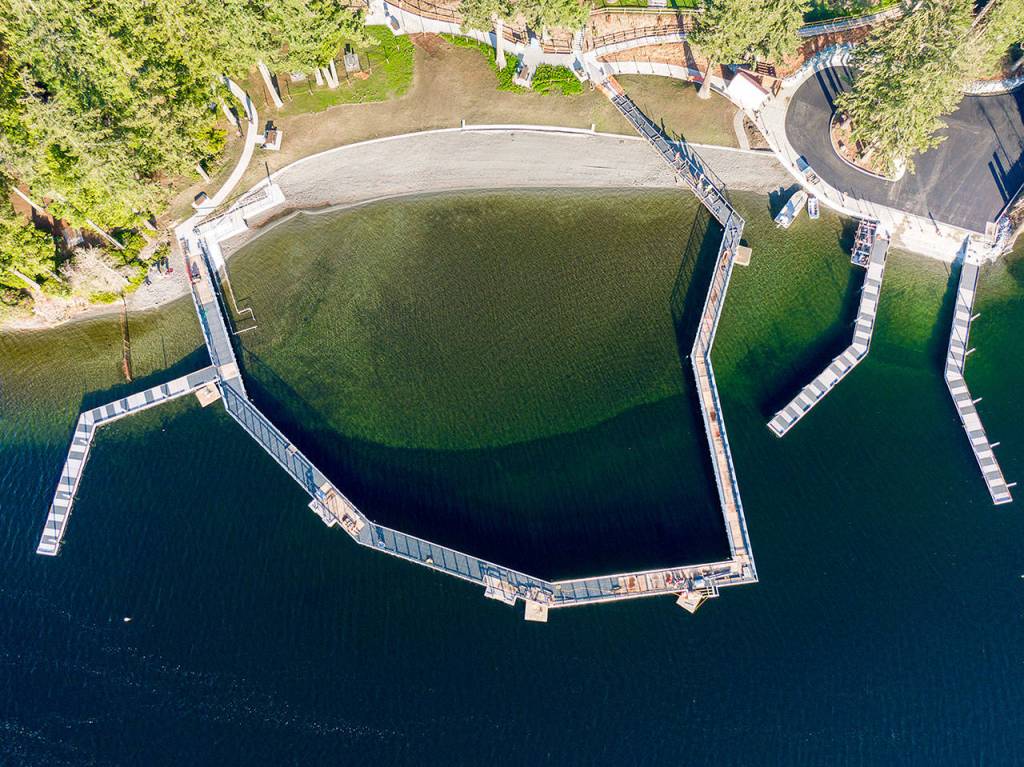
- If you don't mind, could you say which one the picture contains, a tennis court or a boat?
boat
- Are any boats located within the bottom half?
No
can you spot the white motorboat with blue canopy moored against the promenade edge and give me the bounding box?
[774,188,808,229]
